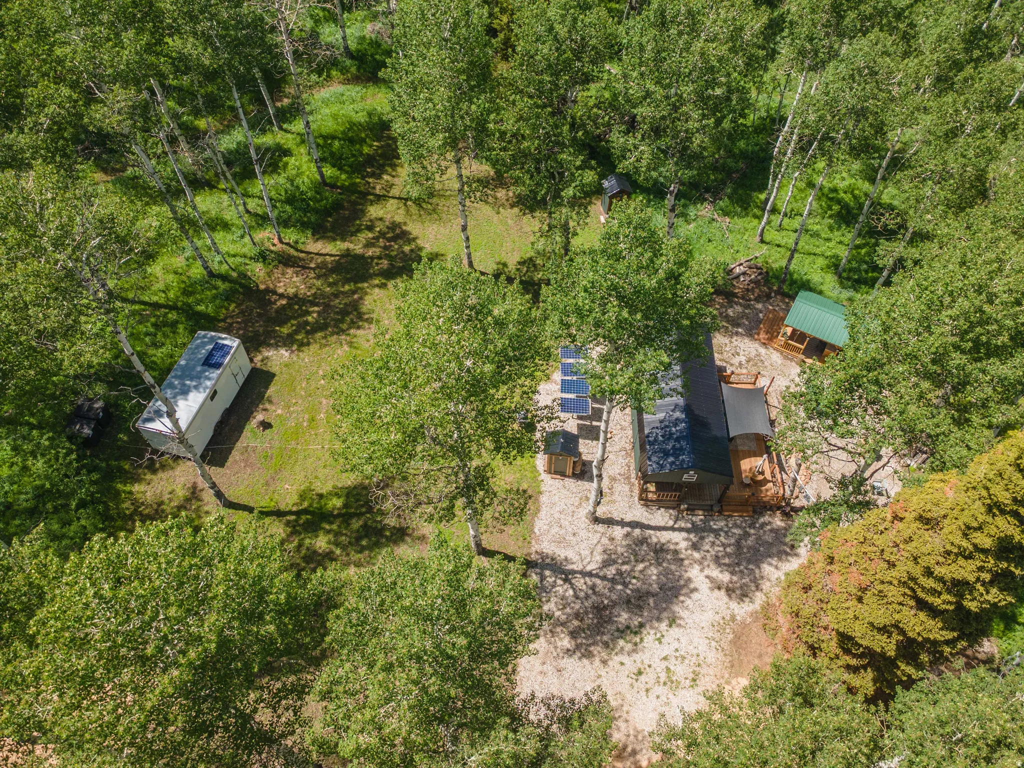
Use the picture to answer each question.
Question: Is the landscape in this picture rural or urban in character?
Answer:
rural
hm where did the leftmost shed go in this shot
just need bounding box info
[545,431,578,476]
